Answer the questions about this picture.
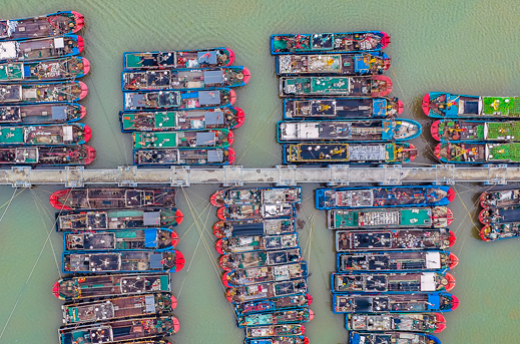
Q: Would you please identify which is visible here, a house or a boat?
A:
boat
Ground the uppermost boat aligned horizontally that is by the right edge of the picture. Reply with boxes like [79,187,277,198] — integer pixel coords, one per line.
[422,93,520,120]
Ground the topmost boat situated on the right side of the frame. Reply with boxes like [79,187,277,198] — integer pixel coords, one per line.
[268,30,390,56]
